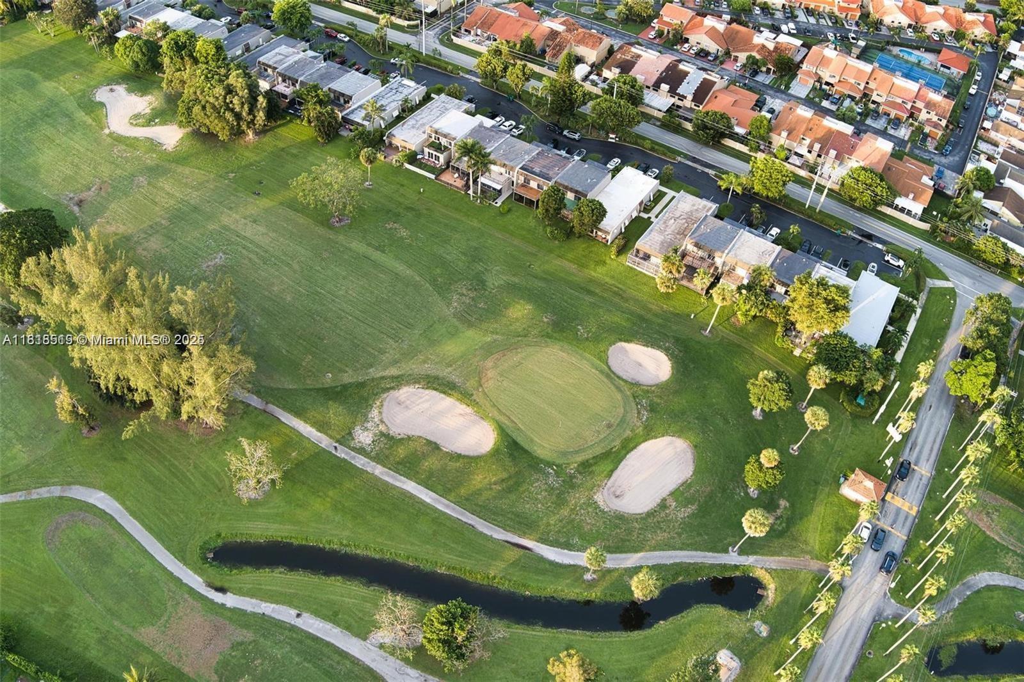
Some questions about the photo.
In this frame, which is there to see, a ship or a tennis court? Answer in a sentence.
Looking from above, you can make out a tennis court.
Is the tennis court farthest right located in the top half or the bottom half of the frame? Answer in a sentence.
The tennis court farthest right is in the top half of the image.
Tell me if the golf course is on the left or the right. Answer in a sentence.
It is on the left.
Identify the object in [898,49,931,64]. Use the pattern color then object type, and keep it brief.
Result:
blue swimming pool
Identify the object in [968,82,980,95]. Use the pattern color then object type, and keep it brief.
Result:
white vehicle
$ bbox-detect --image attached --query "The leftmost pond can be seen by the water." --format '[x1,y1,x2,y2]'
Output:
[211,541,764,633]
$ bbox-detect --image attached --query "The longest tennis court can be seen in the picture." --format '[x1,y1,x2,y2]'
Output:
[845,43,968,97]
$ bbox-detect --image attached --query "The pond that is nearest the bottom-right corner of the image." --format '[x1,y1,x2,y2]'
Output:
[926,641,1024,680]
